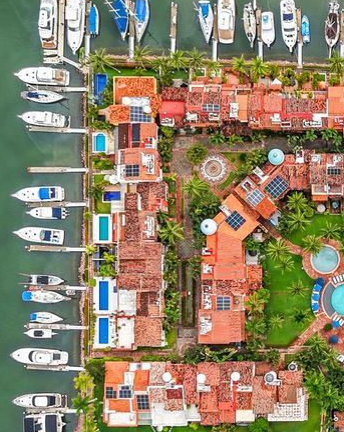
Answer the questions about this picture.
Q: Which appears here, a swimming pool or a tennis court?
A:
swimming pool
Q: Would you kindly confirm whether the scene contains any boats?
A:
Yes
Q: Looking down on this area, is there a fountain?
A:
Yes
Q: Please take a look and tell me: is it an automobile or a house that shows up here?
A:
house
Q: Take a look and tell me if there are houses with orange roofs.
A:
Yes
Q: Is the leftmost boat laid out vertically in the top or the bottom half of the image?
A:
top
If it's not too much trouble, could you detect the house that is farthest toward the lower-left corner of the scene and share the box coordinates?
[104,360,158,426]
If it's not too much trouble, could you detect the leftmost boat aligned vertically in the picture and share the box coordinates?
[36,0,60,51]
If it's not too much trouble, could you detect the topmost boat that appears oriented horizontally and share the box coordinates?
[13,62,71,86]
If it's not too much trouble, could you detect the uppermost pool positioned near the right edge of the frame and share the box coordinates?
[310,245,340,275]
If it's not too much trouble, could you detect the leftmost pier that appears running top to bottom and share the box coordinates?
[59,0,85,71]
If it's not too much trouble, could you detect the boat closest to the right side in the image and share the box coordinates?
[324,2,339,57]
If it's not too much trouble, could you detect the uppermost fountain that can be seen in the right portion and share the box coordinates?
[197,152,229,184]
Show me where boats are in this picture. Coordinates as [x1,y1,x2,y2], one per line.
[324,2,339,57]
[240,5,256,47]
[16,111,72,129]
[12,225,67,245]
[300,16,310,46]
[10,185,67,203]
[21,290,71,302]
[25,328,56,339]
[36,0,60,51]
[23,415,70,432]
[88,4,100,39]
[192,2,212,43]
[25,207,67,221]
[13,62,71,86]
[280,0,299,51]
[7,347,73,366]
[102,0,129,41]
[27,312,63,324]
[28,275,64,287]
[21,83,63,103]
[260,10,275,47]
[61,0,87,52]
[9,393,66,409]
[122,0,149,43]
[215,0,236,48]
